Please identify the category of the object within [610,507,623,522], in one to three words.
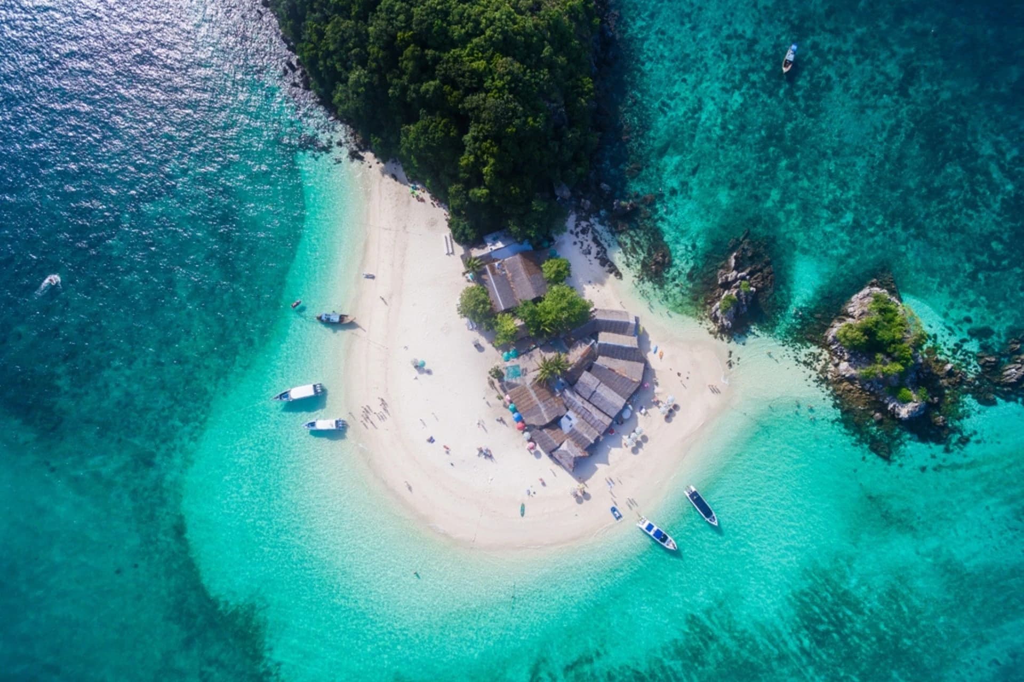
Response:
boat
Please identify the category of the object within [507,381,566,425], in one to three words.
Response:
building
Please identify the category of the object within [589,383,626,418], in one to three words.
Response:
shed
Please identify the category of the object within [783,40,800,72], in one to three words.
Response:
boat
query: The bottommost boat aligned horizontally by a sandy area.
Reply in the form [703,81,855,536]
[301,419,349,432]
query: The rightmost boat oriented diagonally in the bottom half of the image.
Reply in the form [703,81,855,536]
[684,485,718,527]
